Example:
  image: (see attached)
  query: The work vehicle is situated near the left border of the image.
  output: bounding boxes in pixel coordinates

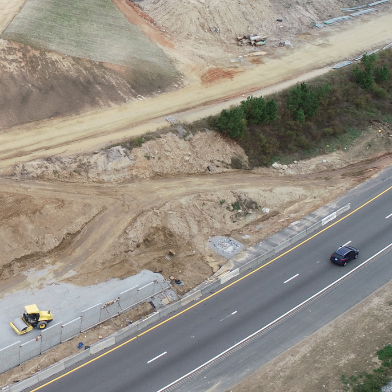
[7,305,55,336]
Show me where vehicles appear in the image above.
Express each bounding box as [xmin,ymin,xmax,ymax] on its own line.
[7,305,55,336]
[331,247,361,267]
